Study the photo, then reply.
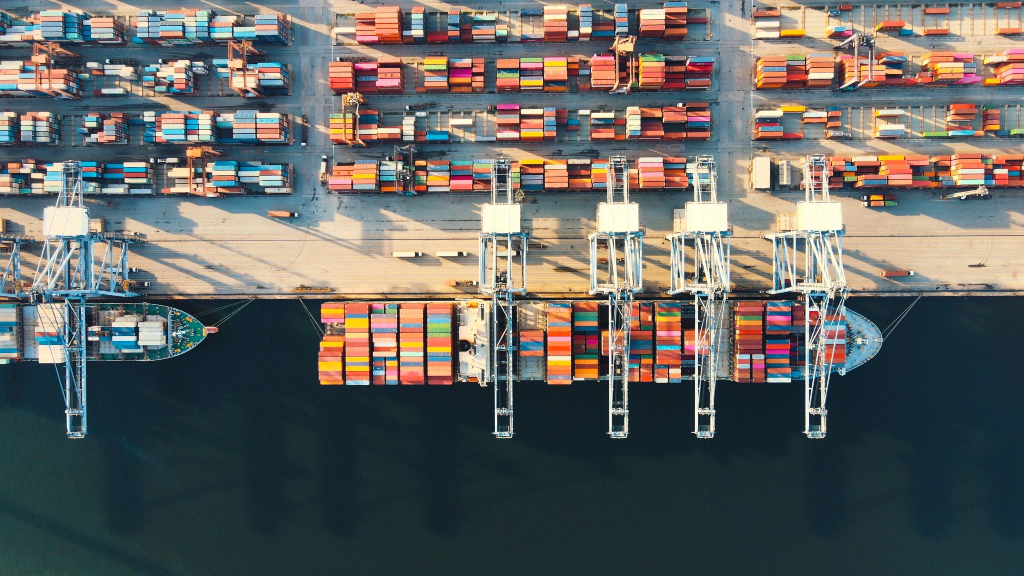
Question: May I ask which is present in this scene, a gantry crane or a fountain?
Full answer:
It is a gantry crane that can be seen here.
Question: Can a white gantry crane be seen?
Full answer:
Yes, the photo shows a white gantry crane.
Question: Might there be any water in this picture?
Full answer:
Yes, some water is visible.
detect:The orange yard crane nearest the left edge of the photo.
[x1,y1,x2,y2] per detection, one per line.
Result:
[29,41,79,102]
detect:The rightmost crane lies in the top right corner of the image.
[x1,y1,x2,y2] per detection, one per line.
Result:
[834,33,875,95]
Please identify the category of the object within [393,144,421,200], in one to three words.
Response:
crane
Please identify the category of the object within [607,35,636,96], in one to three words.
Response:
crane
